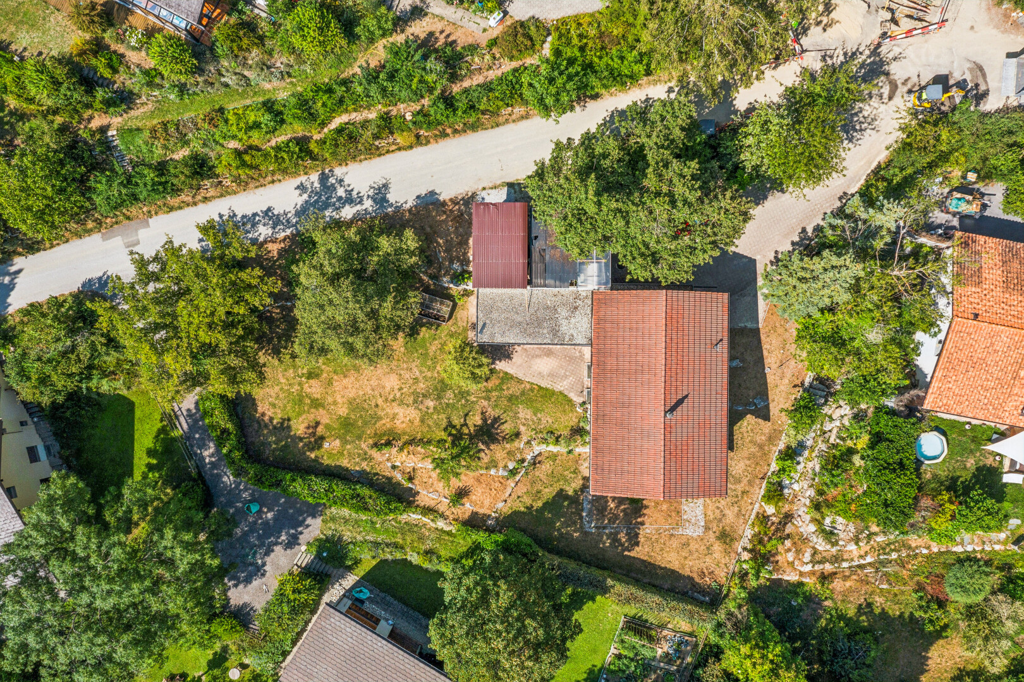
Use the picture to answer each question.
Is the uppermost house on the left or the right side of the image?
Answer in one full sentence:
You can find the uppermost house on the left side of the picture.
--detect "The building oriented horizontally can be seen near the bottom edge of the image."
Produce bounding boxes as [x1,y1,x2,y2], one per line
[275,600,454,682]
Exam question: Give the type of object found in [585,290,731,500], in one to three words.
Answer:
house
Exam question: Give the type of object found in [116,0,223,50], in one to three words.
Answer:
house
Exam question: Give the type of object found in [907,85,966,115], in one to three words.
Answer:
work vehicle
